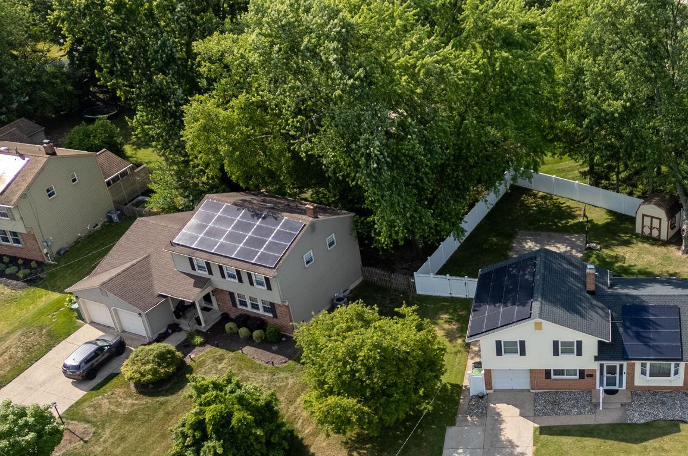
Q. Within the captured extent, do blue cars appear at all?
No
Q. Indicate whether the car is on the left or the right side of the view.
left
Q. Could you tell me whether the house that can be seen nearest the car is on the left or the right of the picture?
left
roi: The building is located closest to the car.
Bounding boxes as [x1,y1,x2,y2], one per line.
[60,196,365,342]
